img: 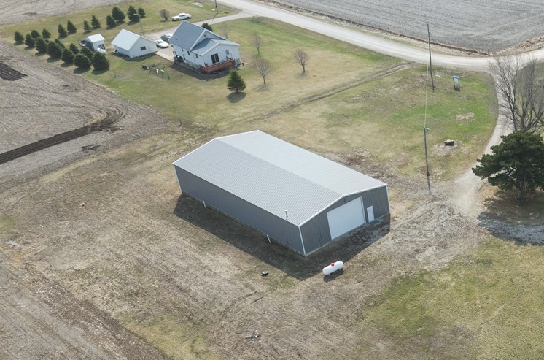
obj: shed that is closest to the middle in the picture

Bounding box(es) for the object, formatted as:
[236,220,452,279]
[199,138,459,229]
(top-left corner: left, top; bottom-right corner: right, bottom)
[171,130,391,256]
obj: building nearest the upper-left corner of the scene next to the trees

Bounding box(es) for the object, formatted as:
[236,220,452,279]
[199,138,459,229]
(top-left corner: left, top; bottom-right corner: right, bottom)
[80,30,107,51]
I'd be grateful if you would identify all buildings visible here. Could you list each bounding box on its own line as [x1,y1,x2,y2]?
[167,21,241,76]
[171,130,391,256]
[108,28,159,59]
[80,30,107,51]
